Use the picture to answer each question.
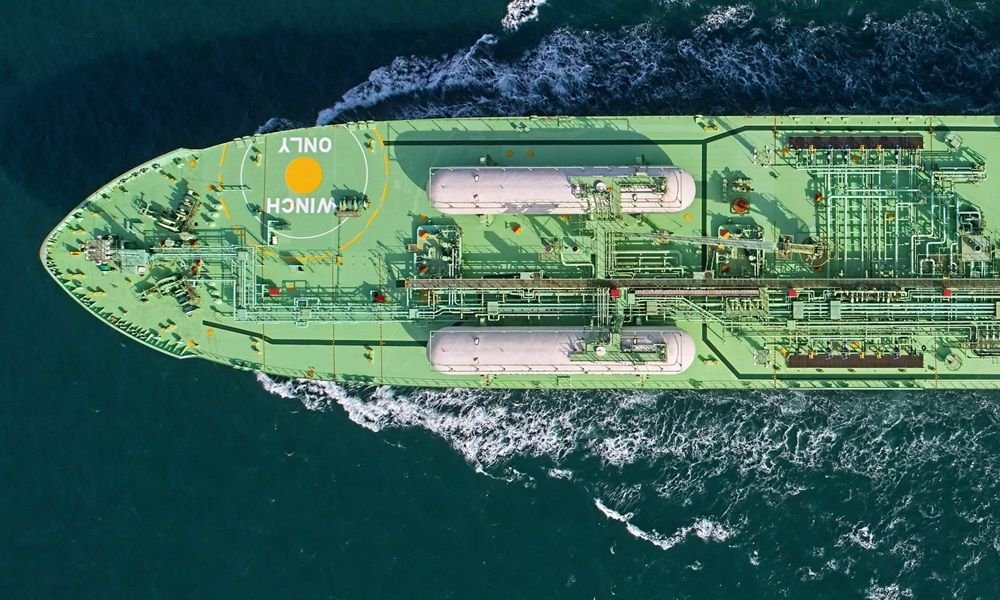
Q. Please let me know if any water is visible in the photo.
Yes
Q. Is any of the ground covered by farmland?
No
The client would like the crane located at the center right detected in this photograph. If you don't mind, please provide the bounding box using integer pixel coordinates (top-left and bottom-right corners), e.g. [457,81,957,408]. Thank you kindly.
[653,233,832,272]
